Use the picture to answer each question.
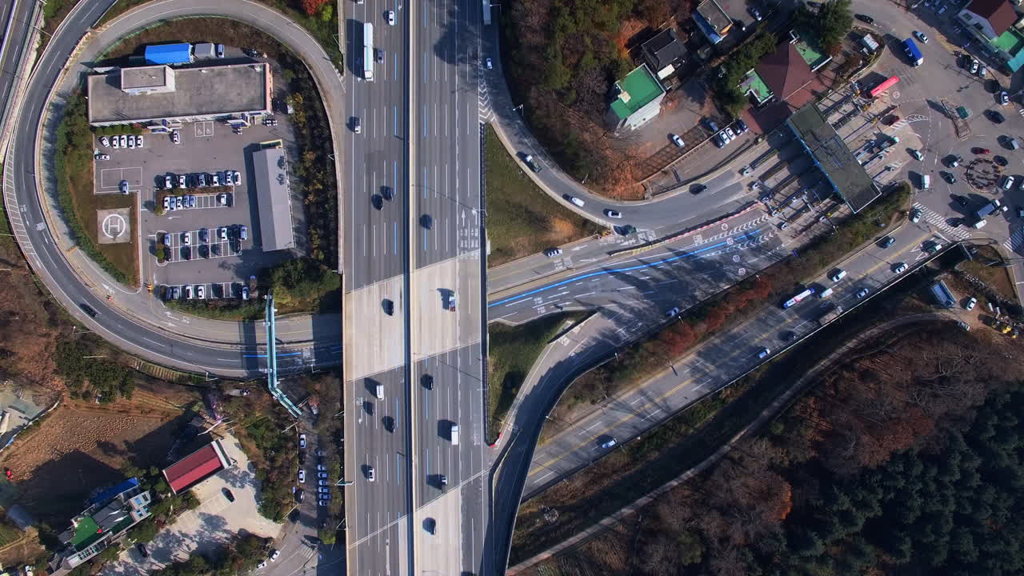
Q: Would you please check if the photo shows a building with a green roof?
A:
Yes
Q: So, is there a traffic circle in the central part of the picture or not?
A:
No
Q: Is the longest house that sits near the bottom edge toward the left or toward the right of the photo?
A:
left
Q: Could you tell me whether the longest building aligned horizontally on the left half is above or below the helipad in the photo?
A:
above it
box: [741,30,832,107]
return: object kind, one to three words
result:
building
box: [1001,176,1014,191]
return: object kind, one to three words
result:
vehicle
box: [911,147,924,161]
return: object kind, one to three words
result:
vehicle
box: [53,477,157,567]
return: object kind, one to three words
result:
house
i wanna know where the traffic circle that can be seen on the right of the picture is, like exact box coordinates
[967,158,1001,192]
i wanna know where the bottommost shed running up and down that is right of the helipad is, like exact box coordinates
[253,140,299,251]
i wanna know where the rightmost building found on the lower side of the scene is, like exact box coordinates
[162,437,238,494]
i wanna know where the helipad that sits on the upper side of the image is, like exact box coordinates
[97,208,131,244]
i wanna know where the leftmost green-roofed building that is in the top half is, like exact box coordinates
[608,64,665,126]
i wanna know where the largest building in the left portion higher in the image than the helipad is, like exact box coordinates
[88,63,278,135]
